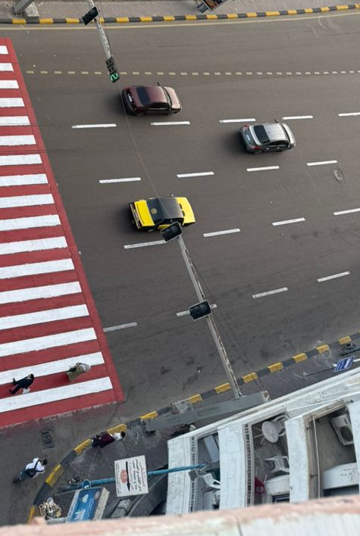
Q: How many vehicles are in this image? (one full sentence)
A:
Altogether the scene contains 3 vehicles.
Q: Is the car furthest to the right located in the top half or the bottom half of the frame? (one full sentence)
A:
The car furthest to the right sits in the top half of the picture.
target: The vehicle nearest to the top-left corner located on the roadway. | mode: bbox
[118,77,185,112]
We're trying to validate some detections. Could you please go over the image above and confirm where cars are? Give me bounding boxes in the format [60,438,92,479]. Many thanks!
[118,77,185,112]
[239,118,300,153]
[128,188,200,230]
